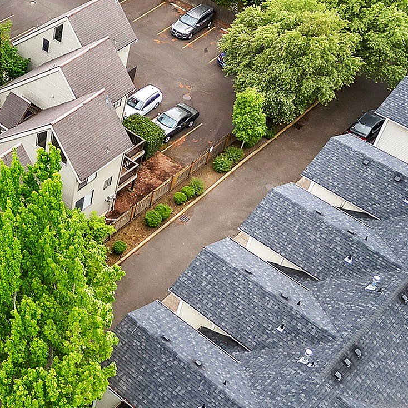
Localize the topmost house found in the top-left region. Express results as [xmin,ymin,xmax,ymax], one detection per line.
[10,0,140,79]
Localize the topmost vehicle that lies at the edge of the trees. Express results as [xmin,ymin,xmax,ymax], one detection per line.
[169,2,215,38]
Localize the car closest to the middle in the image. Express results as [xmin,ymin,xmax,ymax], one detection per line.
[152,101,205,143]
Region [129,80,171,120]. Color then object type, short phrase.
white car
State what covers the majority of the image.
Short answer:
buildings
